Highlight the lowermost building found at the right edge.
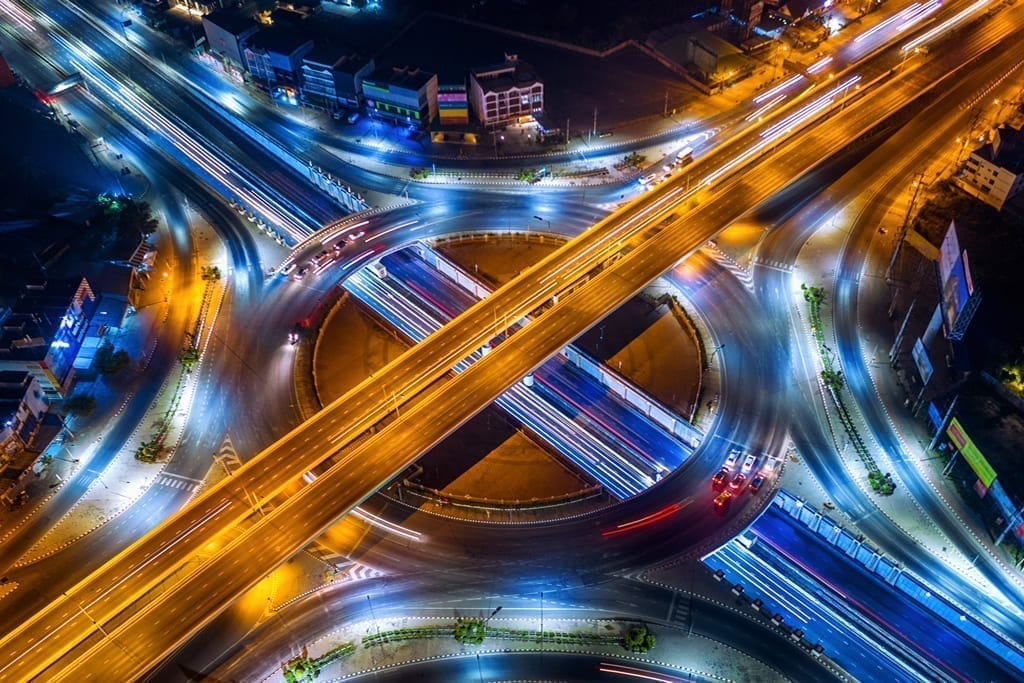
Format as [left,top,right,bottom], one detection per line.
[955,131,1024,212]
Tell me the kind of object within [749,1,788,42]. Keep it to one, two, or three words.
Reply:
building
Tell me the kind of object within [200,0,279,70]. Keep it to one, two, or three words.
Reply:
building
